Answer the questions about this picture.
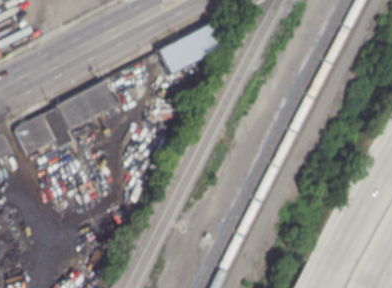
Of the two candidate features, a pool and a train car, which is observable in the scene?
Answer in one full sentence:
There is a train car in the scene.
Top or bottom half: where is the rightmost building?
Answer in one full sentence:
It is in the top half that the rightmost building appears.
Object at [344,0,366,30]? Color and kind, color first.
white rail car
